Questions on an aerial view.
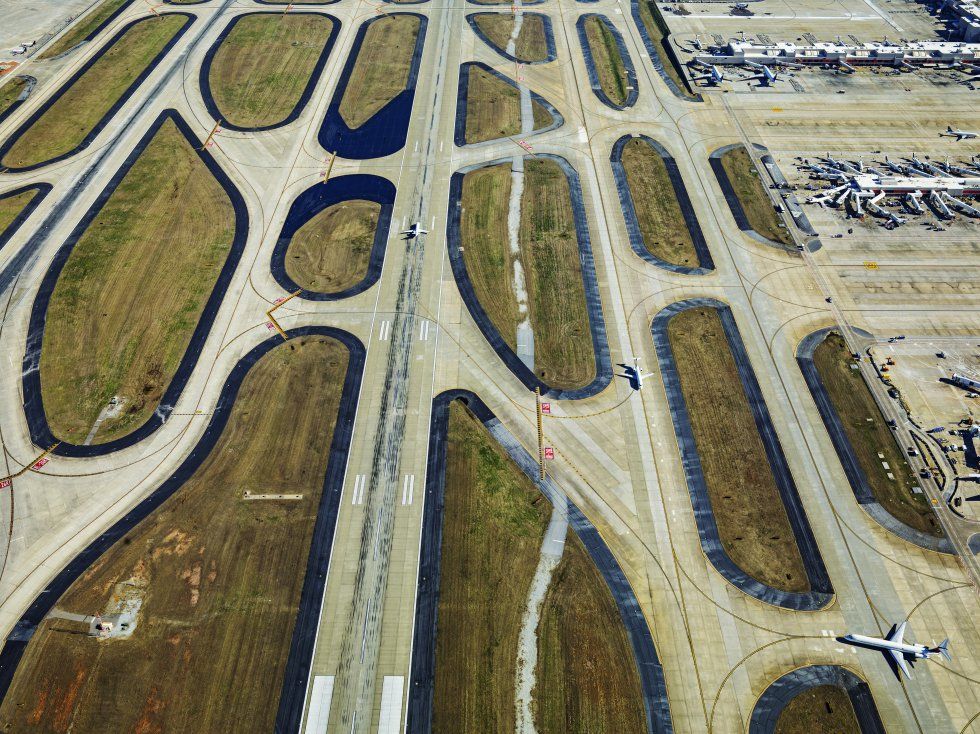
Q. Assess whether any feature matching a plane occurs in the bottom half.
Yes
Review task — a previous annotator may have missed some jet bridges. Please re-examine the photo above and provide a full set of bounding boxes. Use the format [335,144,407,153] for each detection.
[838,58,857,75]
[864,166,887,178]
[774,59,807,71]
[922,161,954,178]
[837,161,864,176]
[948,164,980,176]
[929,189,954,219]
[869,189,905,226]
[958,59,980,73]
[900,166,937,178]
[854,190,876,217]
[906,190,924,214]
[744,58,765,71]
[900,58,918,72]
[835,187,854,207]
[820,182,853,196]
[695,58,713,70]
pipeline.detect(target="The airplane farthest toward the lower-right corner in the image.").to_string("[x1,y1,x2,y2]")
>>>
[843,621,954,681]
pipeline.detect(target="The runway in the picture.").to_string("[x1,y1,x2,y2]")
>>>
[299,0,464,734]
